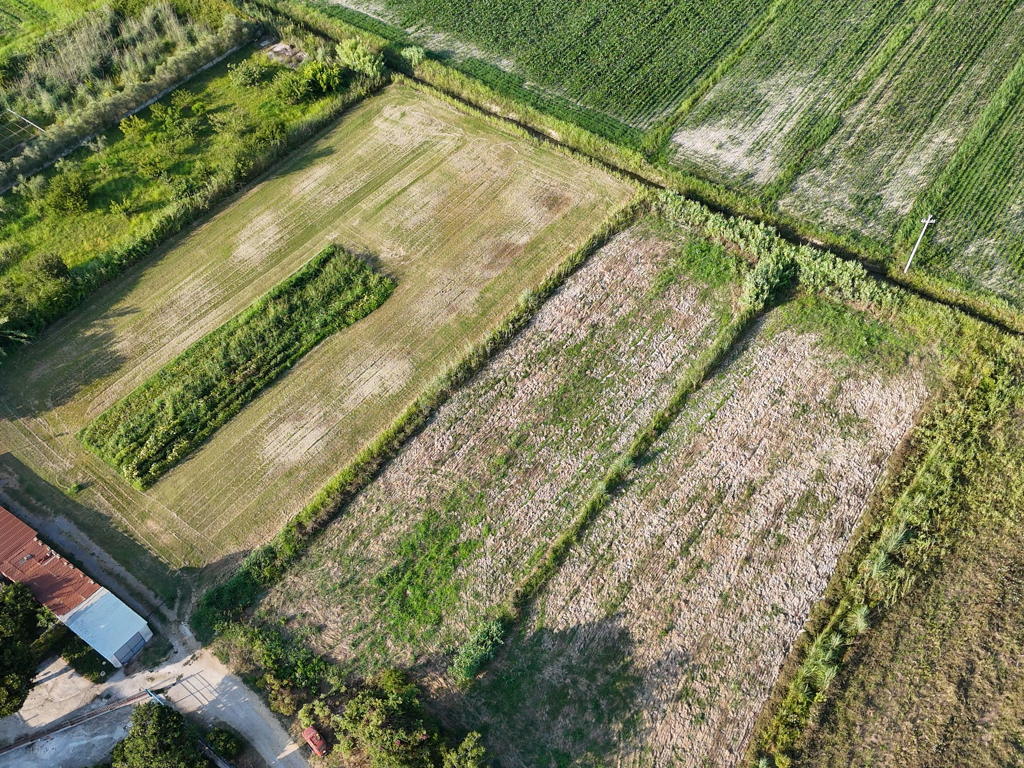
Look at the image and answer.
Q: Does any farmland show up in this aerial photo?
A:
Yes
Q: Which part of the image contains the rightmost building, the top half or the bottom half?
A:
bottom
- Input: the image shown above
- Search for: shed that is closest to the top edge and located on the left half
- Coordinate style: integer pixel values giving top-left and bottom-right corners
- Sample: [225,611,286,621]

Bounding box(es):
[0,492,107,621]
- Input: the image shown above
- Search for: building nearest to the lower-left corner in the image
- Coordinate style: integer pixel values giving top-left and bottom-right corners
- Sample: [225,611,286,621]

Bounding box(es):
[70,589,156,669]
